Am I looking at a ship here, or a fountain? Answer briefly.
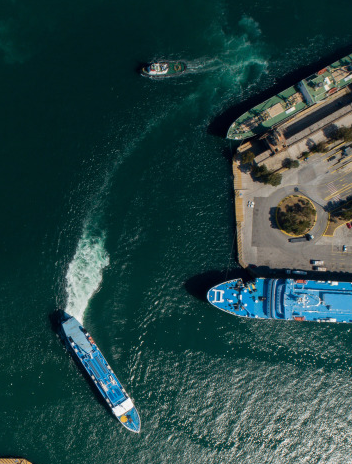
ship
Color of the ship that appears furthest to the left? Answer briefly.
blue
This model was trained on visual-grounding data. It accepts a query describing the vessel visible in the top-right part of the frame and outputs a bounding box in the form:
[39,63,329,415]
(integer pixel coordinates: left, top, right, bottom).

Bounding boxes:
[227,53,352,139]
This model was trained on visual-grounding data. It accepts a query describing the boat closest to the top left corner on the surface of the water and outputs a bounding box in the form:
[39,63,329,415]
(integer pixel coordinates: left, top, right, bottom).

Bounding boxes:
[140,61,187,77]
